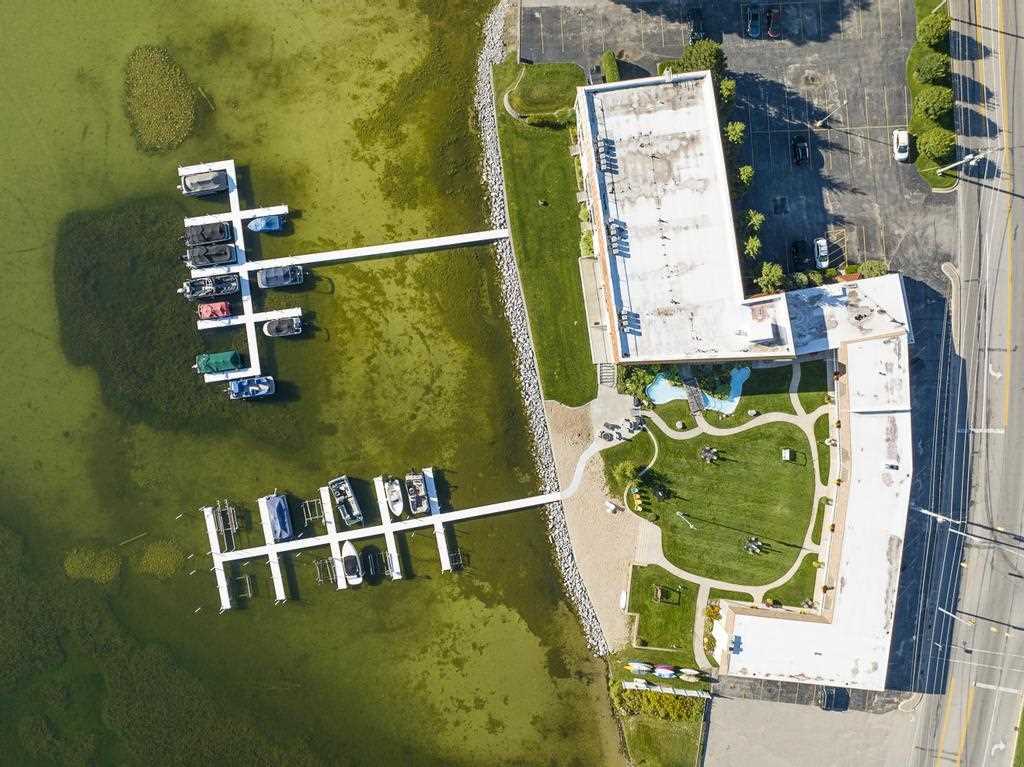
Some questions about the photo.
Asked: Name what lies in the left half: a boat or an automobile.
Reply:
boat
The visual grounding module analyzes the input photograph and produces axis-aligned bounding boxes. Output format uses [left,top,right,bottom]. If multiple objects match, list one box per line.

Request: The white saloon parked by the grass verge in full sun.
[892,130,909,163]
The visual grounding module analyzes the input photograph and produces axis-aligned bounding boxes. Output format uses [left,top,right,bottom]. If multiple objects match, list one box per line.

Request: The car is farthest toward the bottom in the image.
[821,684,838,711]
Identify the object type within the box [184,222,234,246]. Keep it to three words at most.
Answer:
boat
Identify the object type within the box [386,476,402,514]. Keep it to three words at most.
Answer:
boat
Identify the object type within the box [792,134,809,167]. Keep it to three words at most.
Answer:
car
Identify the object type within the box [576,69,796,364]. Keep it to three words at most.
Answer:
building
